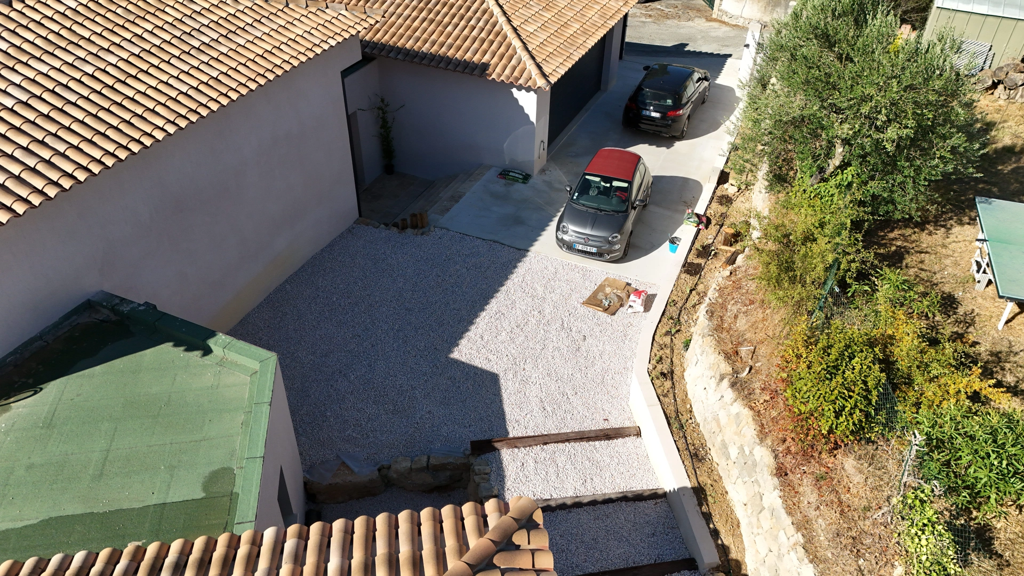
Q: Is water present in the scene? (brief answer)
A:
No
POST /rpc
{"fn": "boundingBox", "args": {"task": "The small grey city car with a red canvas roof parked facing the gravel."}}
[554,147,657,263]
